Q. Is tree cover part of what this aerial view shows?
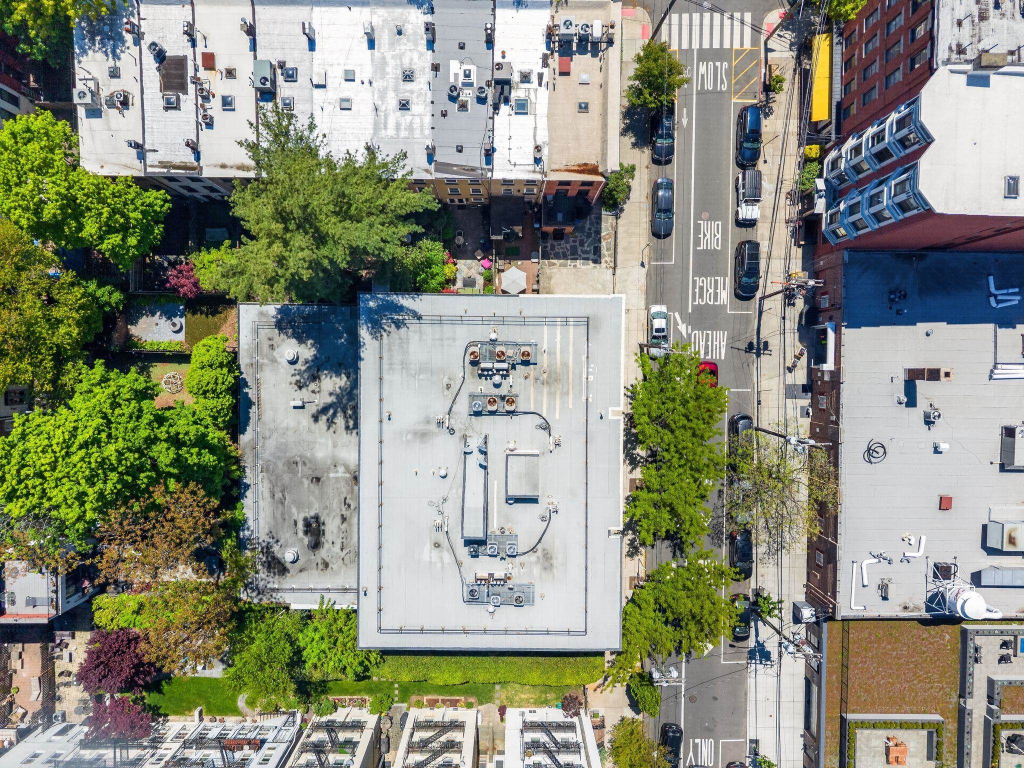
Yes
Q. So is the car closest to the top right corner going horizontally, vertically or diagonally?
vertically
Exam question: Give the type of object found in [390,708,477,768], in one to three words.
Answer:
house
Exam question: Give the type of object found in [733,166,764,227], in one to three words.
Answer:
car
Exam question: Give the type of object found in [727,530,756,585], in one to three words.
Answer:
car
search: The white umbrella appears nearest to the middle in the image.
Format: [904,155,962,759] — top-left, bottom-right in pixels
[502,267,525,293]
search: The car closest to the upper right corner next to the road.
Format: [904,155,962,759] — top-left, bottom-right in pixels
[735,102,766,166]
